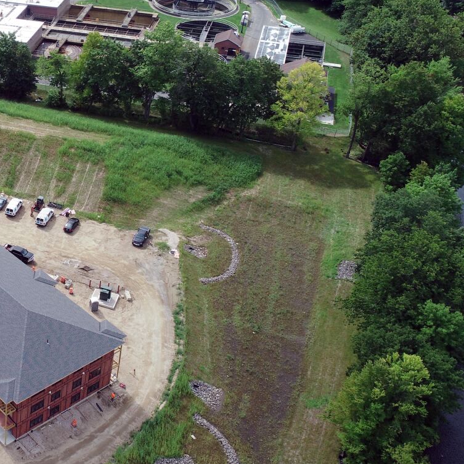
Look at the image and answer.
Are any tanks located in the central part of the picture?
No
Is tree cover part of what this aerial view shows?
Yes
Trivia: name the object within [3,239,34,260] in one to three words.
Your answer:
vehicle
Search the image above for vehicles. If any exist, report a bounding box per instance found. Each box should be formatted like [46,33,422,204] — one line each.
[0,195,10,210]
[35,207,57,226]
[29,200,47,214]
[132,225,153,246]
[3,239,34,260]
[4,198,25,215]
[63,216,81,232]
